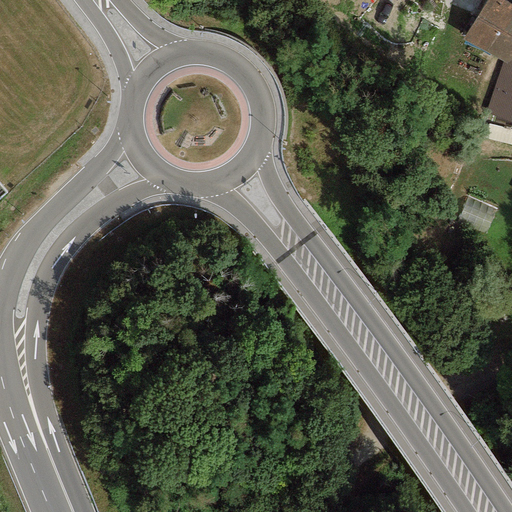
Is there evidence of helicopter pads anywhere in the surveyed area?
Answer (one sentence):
No, no helicopter pad is visible in the scene.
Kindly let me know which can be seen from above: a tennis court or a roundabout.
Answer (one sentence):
There is a roundabout in the scene.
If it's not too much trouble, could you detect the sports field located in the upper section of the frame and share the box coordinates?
[0,0,98,189]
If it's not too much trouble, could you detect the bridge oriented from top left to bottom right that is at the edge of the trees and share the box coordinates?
[258,198,512,512]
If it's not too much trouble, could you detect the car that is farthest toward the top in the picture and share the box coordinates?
[380,2,394,22]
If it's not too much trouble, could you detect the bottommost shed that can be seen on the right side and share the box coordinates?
[460,194,498,232]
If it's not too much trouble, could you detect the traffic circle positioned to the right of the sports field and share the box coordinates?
[122,42,274,194]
